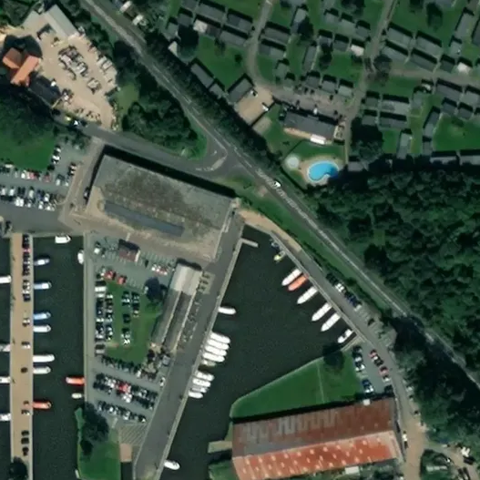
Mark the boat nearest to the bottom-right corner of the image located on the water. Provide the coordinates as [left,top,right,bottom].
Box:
[339,328,354,342]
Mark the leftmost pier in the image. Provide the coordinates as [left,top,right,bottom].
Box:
[10,236,33,480]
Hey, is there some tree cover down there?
Yes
